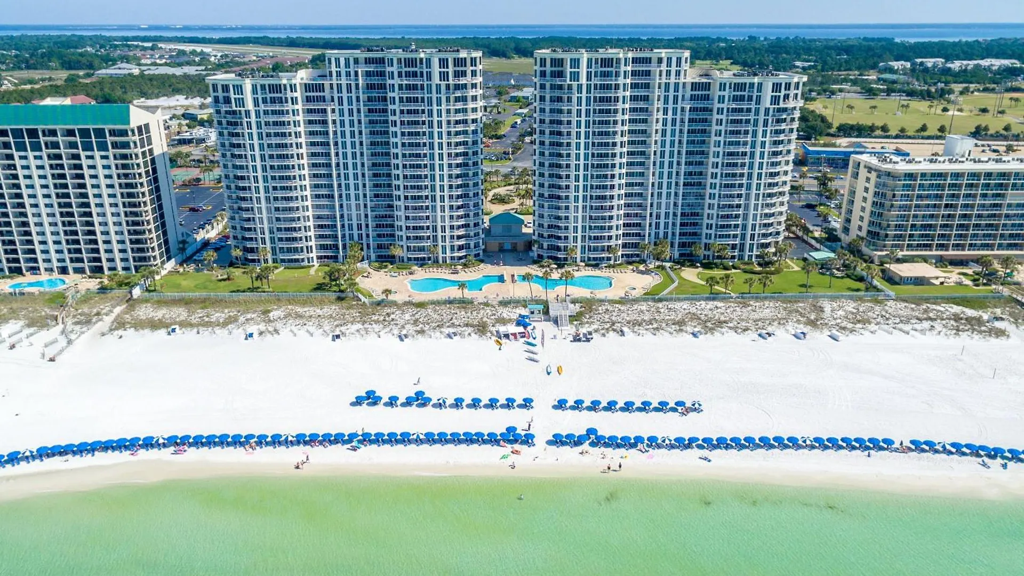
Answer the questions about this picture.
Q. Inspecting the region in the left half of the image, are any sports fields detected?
No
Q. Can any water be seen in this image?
Yes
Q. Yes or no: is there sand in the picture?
Yes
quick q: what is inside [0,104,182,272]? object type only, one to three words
building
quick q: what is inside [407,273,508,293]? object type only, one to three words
swimming pool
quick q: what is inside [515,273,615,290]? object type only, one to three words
swimming pool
